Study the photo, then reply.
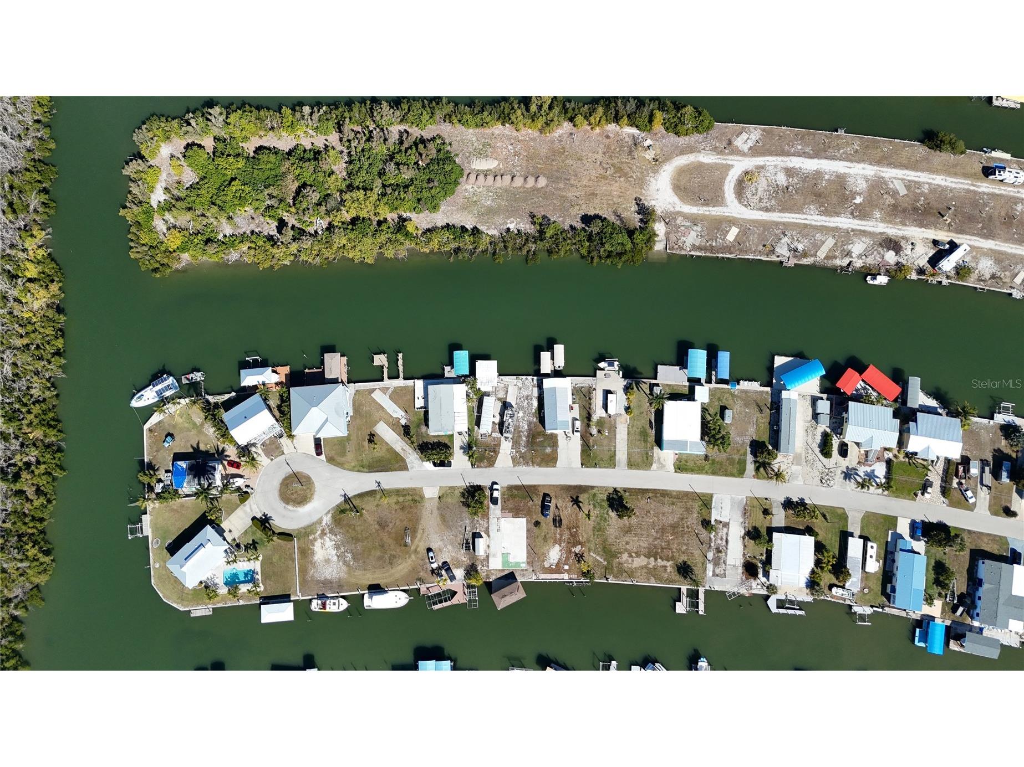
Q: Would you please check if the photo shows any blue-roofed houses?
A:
Yes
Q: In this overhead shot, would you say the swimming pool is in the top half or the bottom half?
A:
bottom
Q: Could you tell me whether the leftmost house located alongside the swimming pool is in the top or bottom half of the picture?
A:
bottom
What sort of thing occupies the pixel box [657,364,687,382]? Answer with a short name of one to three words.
pier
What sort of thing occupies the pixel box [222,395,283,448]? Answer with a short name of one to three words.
house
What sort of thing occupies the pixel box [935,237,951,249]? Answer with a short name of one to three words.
vehicle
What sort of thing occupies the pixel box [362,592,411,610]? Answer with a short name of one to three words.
boat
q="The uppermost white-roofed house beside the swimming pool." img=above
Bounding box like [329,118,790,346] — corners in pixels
[166,525,236,589]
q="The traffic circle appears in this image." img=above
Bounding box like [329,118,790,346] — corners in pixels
[278,471,314,507]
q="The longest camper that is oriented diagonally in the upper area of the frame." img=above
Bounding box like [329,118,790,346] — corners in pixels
[939,238,979,272]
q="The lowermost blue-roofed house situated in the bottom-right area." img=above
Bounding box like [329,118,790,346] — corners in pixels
[884,539,927,612]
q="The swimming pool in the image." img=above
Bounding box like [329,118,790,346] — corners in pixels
[223,568,255,588]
